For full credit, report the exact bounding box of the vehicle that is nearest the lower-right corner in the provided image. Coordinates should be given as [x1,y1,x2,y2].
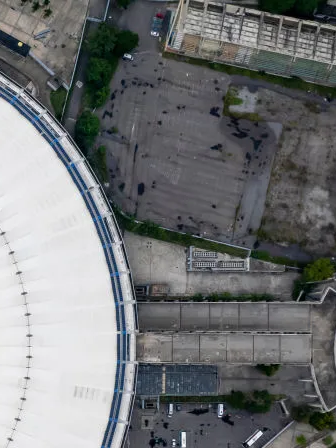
[244,429,264,446]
